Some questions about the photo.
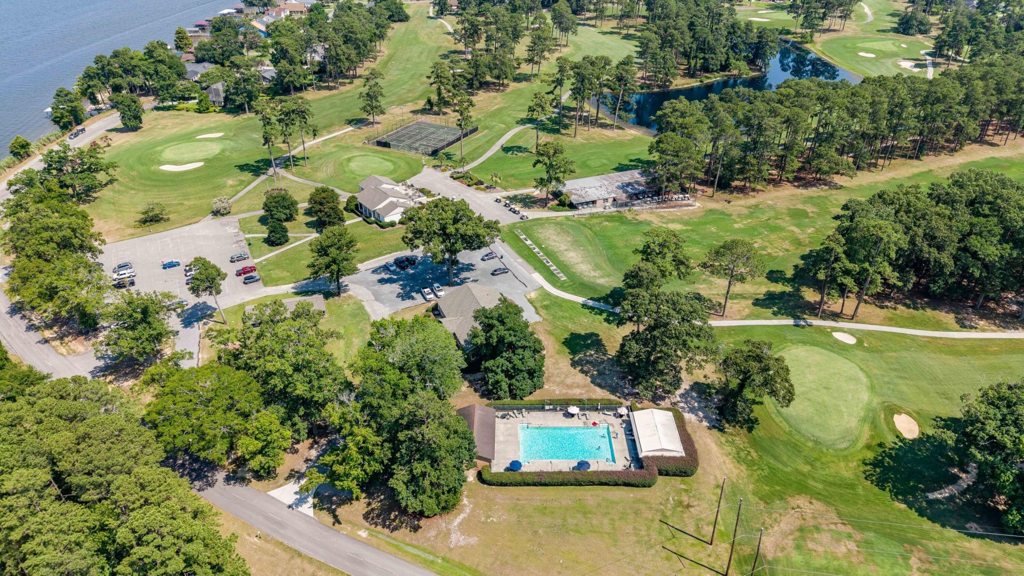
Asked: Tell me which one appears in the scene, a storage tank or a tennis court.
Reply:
tennis court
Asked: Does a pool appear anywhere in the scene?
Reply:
Yes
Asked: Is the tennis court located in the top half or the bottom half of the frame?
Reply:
top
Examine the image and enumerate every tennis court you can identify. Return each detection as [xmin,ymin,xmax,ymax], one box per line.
[370,120,470,156]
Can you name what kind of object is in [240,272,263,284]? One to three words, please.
vehicle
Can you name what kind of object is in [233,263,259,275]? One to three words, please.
vehicle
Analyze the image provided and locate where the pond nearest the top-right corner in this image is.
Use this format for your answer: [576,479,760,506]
[589,39,860,134]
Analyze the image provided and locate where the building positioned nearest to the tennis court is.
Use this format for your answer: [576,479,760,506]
[357,173,411,223]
